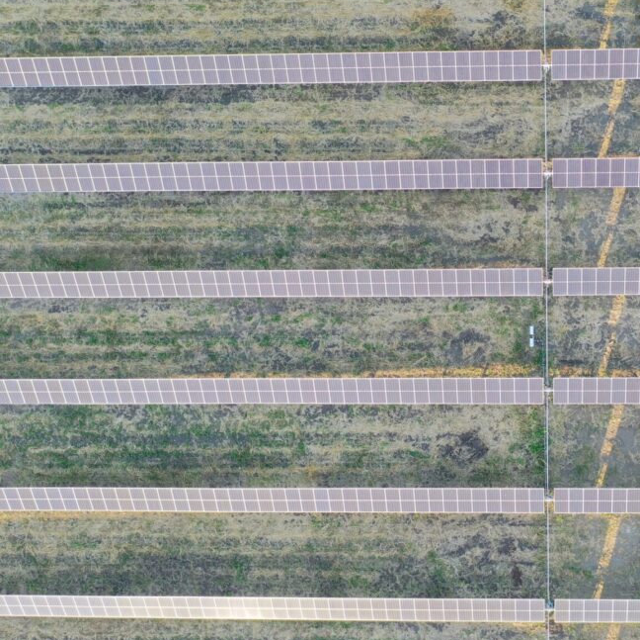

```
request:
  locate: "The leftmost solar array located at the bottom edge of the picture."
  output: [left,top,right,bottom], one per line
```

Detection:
[0,596,548,620]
